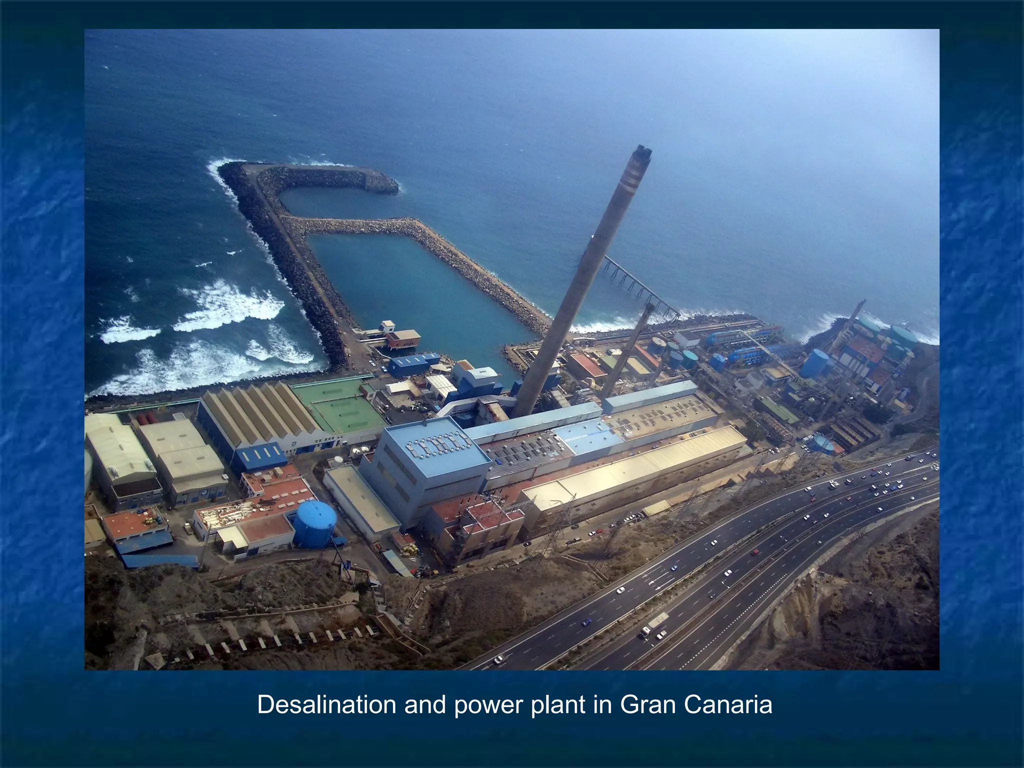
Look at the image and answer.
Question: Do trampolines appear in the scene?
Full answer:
No, the scene contains no trampoline.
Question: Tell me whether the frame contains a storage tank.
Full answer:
Yes, I can see a storage tank in this picture.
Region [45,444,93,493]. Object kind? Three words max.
storage tank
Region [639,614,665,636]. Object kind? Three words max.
truck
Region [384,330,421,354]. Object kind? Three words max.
house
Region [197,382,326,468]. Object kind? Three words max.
building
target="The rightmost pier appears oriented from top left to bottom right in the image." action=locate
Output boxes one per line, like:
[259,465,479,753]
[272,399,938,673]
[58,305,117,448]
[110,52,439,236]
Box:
[605,256,680,319]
